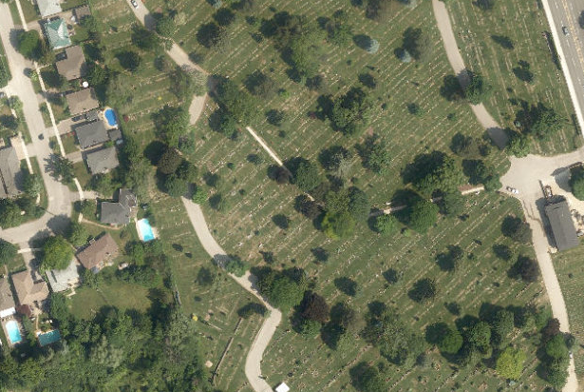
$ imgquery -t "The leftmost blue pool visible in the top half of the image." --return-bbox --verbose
[105,108,117,127]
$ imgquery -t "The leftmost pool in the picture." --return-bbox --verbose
[7,320,22,344]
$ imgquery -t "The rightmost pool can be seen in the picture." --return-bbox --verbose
[137,217,156,242]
